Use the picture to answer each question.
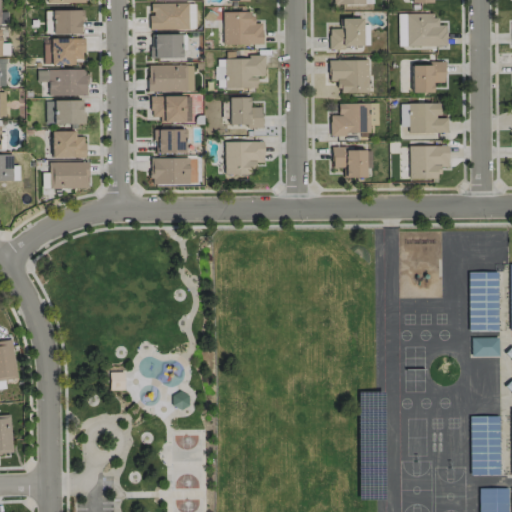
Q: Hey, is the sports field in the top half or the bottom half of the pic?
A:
bottom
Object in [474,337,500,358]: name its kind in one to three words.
building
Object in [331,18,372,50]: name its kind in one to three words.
house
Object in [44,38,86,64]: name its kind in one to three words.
house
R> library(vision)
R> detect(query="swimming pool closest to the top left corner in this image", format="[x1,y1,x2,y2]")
[8,66,20,86]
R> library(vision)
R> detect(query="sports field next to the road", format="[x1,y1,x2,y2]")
[217,230,377,512]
